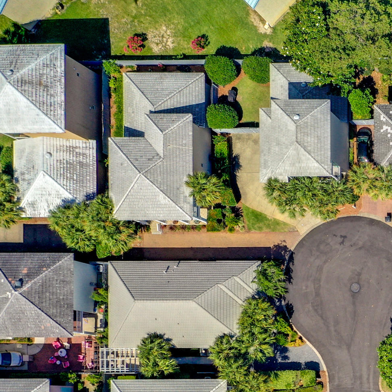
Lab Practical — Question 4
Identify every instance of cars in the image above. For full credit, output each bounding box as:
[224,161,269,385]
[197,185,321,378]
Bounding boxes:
[0,349,26,368]
[354,126,373,165]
